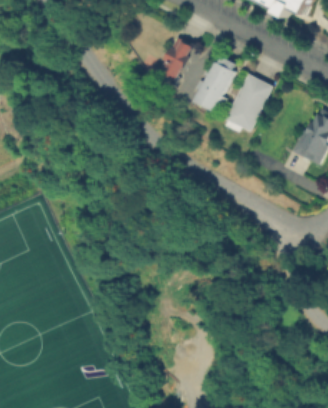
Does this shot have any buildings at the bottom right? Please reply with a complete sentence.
No, no building can be made out at the bottom right.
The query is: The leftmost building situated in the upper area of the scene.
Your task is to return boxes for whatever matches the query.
[160,36,190,78]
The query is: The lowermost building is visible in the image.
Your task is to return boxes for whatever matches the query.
[294,106,328,166]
